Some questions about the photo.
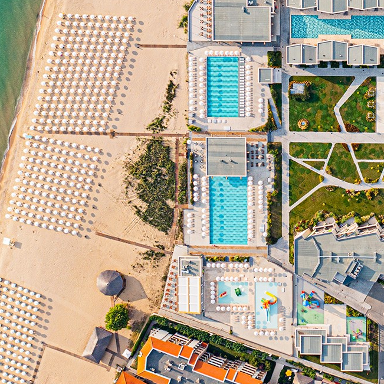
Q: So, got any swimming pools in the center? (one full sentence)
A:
Yes, a swimming pool shows up in the center.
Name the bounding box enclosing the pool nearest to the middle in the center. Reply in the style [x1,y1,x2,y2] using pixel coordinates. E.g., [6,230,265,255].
[208,176,248,245]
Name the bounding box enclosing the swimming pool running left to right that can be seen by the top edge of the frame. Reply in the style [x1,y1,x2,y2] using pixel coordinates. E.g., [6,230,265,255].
[290,14,384,40]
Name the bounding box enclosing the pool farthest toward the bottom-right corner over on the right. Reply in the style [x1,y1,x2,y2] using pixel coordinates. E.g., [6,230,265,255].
[255,281,278,330]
